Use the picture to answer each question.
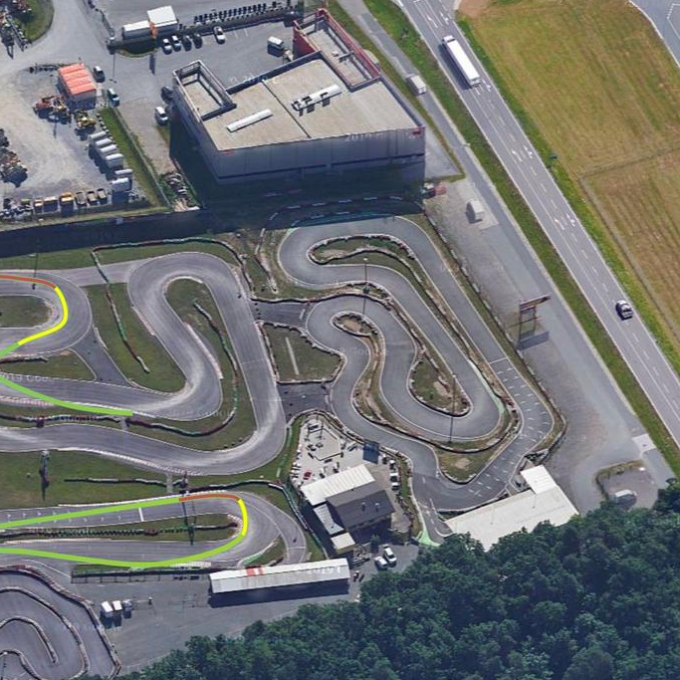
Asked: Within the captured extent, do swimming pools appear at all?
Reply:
No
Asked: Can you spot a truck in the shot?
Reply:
Yes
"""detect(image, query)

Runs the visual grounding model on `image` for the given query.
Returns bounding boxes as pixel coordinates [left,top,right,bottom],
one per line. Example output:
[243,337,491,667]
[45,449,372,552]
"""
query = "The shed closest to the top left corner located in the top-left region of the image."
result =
[59,64,97,109]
